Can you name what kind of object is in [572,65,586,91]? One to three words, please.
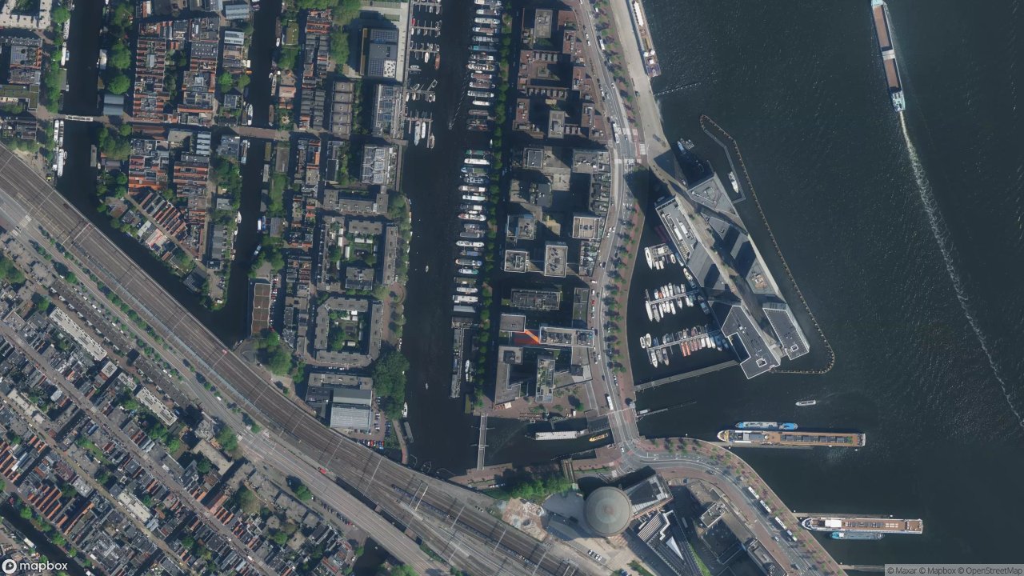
building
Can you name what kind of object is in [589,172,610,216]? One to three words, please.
building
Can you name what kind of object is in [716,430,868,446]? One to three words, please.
ship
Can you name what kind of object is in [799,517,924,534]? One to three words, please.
ship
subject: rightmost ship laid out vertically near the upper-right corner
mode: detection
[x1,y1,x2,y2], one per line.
[871,0,906,112]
